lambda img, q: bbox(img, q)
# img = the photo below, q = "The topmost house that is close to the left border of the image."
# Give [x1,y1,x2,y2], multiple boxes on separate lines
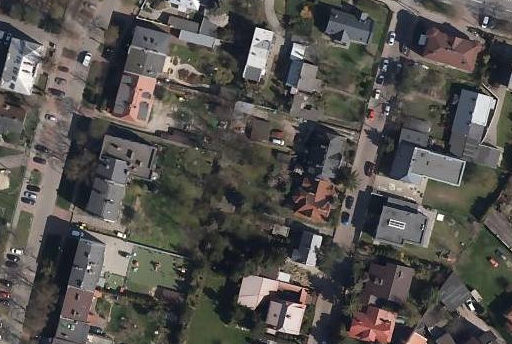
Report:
[1,37,44,96]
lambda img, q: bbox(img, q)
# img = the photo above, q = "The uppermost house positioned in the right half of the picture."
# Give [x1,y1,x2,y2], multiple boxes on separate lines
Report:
[325,8,373,48]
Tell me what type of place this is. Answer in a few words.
residential area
